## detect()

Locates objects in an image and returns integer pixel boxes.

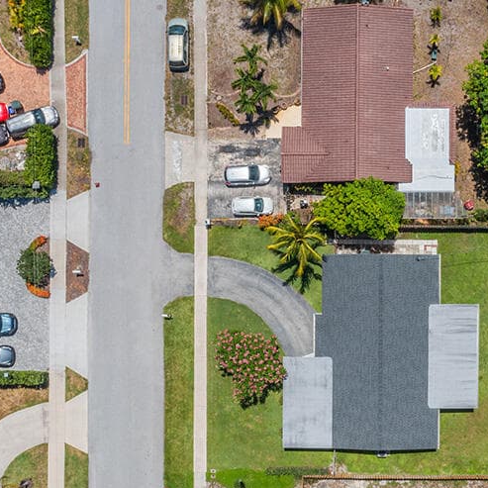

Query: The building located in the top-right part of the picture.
[280,1,467,222]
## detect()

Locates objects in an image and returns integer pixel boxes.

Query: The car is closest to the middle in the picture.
[231,193,275,217]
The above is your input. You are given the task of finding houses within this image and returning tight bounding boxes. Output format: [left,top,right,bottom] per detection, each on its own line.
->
[280,1,467,222]
[282,253,480,458]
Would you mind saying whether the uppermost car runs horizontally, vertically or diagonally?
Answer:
vertically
